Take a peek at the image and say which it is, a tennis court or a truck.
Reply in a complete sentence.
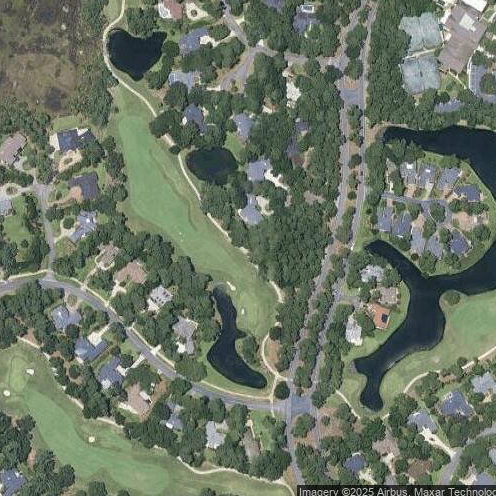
The image shows a tennis court.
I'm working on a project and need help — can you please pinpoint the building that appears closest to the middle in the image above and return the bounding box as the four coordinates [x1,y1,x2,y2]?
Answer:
[239,194,265,224]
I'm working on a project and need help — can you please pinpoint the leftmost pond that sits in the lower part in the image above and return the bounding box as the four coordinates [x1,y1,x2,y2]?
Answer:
[207,288,266,389]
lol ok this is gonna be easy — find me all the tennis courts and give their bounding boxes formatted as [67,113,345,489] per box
[416,12,439,49]
[401,59,426,95]
[419,56,443,92]
[398,16,422,52]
